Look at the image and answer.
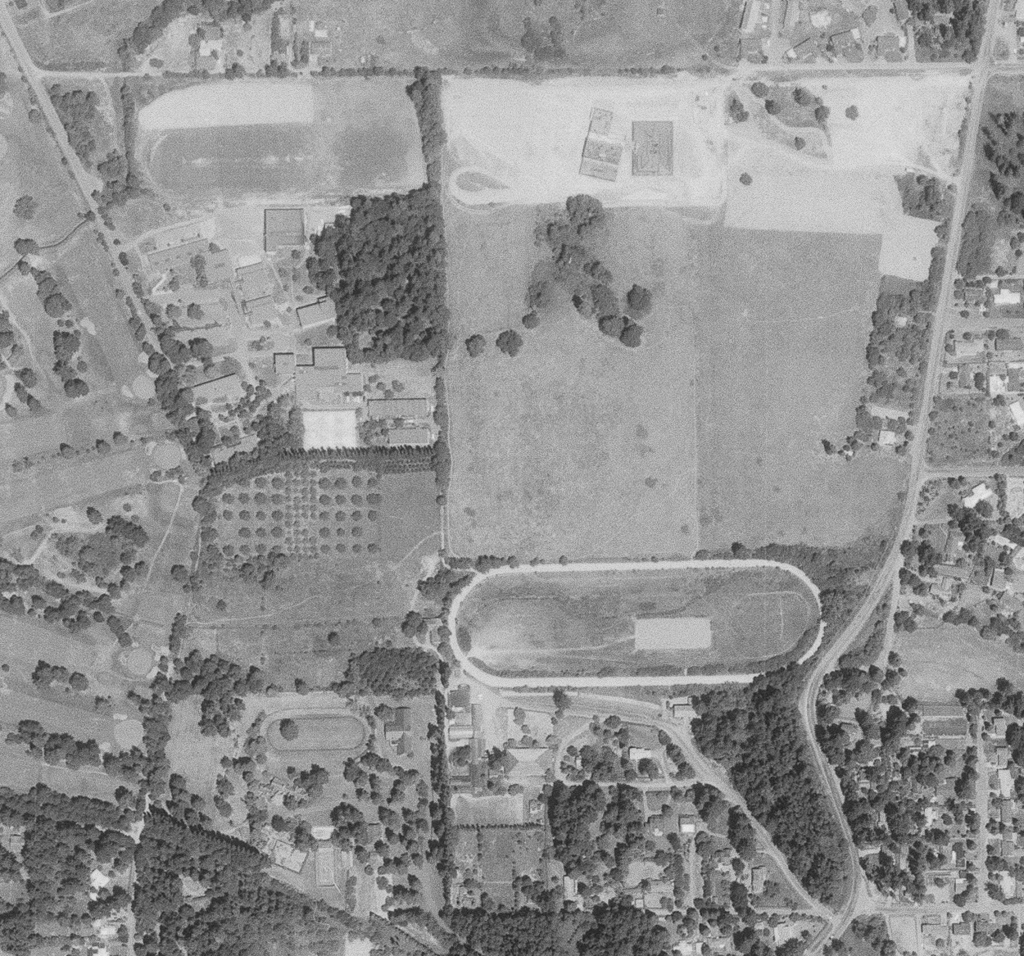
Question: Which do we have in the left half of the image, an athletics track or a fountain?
athletics track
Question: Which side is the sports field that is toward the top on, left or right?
left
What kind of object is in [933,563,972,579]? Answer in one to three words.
house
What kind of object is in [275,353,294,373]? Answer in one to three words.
building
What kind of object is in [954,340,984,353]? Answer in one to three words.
house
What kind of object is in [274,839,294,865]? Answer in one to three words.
building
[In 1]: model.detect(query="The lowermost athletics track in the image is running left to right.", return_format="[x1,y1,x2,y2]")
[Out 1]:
[262,710,371,756]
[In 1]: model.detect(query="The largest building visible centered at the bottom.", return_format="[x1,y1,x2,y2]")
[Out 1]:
[506,747,556,777]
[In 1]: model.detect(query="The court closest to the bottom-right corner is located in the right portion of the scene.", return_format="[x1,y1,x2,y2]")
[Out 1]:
[635,618,710,650]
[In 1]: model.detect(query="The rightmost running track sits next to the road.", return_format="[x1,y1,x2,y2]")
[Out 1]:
[449,558,768,687]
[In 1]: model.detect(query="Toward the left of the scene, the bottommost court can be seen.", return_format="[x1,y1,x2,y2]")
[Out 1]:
[304,412,356,449]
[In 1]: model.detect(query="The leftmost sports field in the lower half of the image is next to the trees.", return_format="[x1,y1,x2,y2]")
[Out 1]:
[270,719,363,747]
